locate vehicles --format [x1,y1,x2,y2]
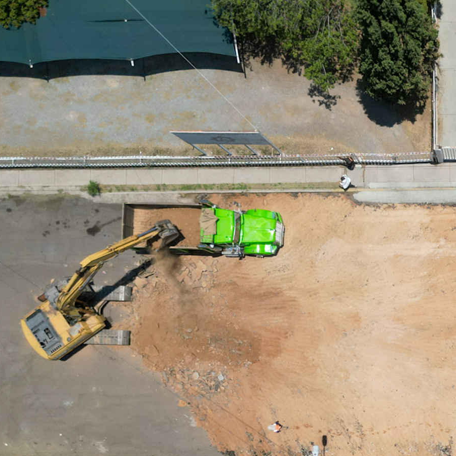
[122,202,288,259]
[22,221,174,359]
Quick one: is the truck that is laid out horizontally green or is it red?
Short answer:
green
